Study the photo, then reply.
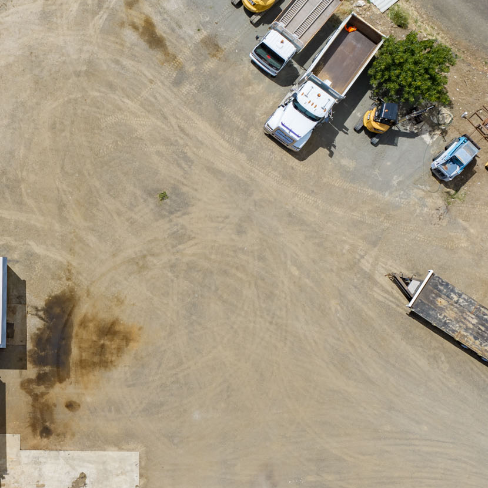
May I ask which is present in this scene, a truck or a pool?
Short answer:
truck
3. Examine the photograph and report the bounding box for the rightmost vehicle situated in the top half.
[428,129,482,186]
